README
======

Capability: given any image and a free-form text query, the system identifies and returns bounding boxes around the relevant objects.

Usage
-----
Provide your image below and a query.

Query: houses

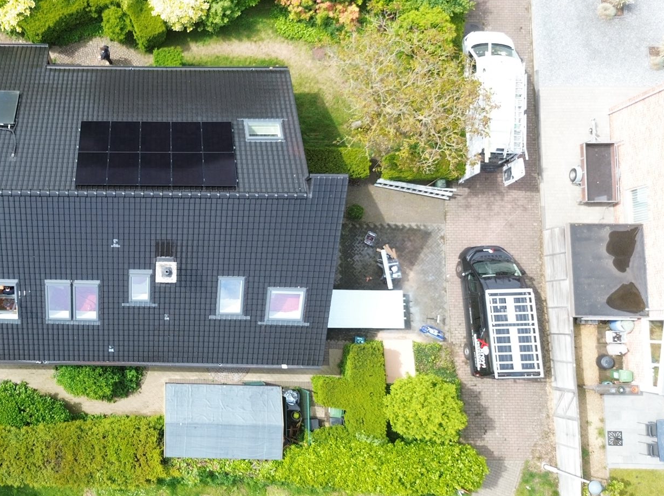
[0,41,349,373]
[609,88,664,389]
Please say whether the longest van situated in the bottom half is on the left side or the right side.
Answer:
right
